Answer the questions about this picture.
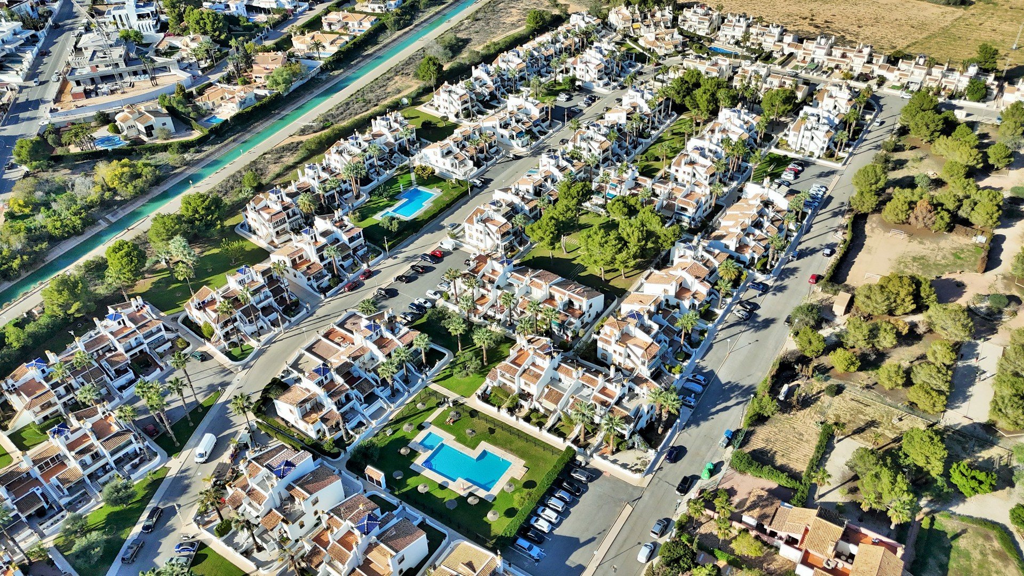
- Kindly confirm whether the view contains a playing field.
Yes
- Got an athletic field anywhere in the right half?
Yes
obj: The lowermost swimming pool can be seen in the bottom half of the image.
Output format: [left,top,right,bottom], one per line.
[408,422,529,502]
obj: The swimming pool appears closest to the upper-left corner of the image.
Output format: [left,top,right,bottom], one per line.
[91,133,128,148]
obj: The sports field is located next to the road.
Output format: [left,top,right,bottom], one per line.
[834,212,985,287]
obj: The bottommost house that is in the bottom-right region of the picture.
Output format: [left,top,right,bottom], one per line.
[745,486,910,576]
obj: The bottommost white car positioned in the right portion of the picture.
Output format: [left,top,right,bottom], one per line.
[637,538,655,564]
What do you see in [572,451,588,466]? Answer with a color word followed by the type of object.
white car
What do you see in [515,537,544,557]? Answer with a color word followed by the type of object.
blue car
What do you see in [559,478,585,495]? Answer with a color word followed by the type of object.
black car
